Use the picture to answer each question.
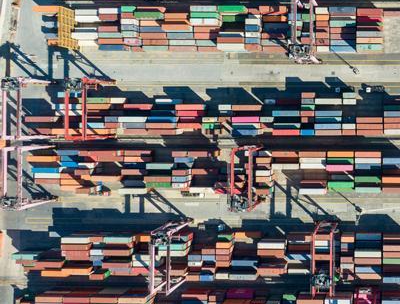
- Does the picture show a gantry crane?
Yes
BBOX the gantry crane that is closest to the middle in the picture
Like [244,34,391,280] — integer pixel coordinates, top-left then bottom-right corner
[229,141,270,213]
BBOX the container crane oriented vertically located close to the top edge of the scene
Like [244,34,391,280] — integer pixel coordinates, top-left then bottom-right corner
[291,0,325,69]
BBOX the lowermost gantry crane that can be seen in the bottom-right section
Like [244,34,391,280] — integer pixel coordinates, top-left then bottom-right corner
[352,270,381,304]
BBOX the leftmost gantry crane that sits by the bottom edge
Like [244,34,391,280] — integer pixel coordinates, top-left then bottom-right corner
[148,217,198,296]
